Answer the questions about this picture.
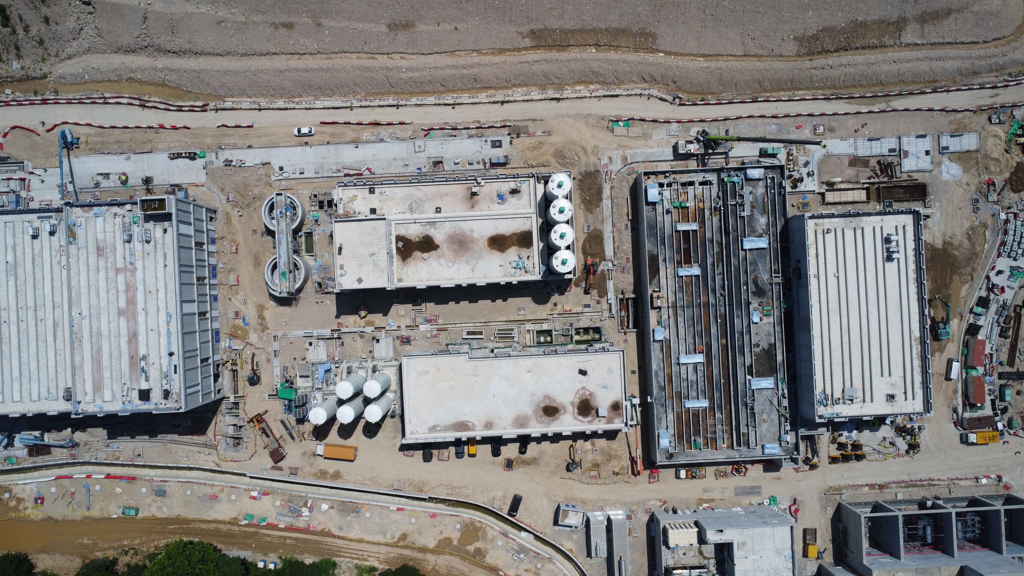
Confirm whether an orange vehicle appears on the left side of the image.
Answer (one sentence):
Yes, the scene does show an orange vehicle on the left side of the image.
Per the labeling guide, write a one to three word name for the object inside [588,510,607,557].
building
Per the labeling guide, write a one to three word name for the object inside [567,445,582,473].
work vehicle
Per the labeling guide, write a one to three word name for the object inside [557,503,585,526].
shed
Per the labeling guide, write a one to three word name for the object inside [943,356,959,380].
vehicle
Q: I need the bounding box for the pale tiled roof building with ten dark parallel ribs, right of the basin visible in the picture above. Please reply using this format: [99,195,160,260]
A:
[788,208,934,422]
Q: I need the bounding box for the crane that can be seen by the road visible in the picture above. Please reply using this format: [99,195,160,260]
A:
[676,126,828,166]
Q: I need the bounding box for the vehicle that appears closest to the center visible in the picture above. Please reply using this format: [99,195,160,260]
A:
[586,255,598,291]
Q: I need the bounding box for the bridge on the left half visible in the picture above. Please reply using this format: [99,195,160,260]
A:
[274,192,295,292]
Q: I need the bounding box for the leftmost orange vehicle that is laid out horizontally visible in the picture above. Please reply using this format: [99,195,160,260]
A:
[314,443,361,461]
